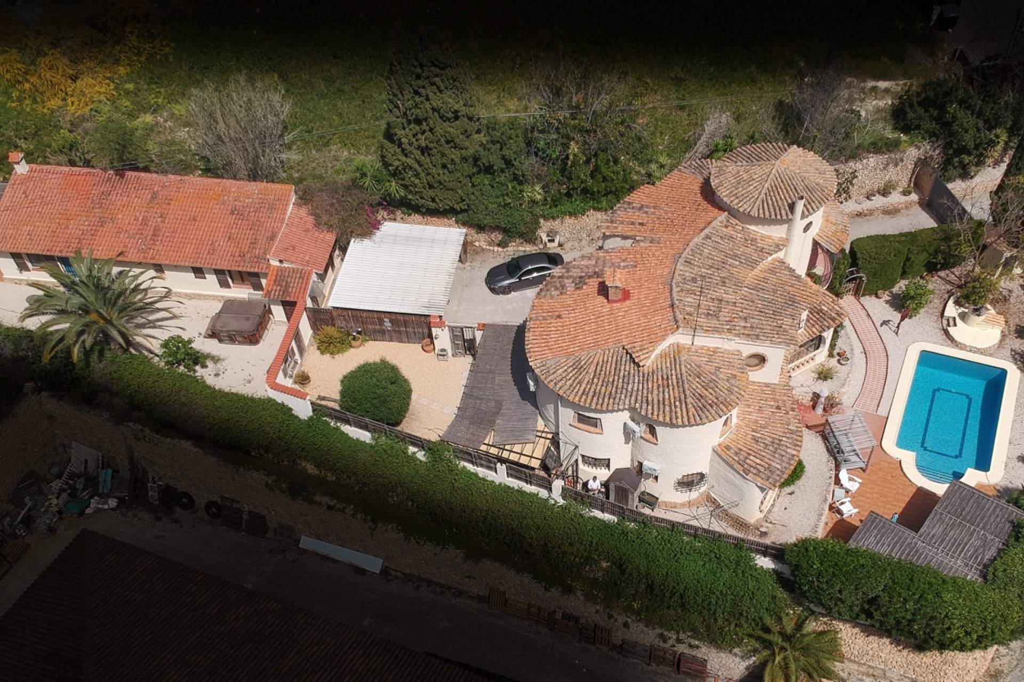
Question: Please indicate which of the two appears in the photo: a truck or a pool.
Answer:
pool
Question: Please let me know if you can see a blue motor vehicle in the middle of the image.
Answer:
No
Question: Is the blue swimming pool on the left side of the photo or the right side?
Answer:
right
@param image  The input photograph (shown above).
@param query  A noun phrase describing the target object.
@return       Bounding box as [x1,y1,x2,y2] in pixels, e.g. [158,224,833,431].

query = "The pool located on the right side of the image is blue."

[883,342,1019,494]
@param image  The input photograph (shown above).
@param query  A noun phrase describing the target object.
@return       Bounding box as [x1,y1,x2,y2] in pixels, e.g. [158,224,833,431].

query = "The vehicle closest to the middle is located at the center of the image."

[479,248,567,299]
